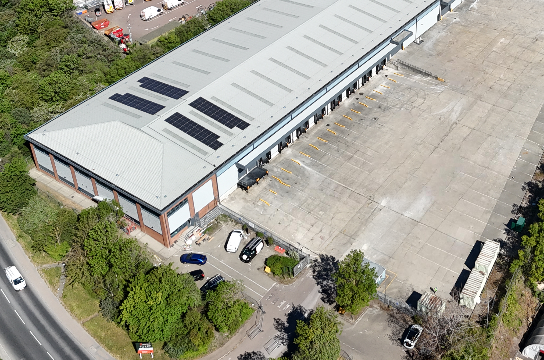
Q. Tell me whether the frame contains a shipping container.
Yes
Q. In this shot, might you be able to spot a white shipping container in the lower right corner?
Yes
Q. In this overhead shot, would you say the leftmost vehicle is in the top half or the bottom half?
bottom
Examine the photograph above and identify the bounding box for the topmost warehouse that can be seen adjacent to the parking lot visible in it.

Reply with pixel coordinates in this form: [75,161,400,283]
[22,0,464,245]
